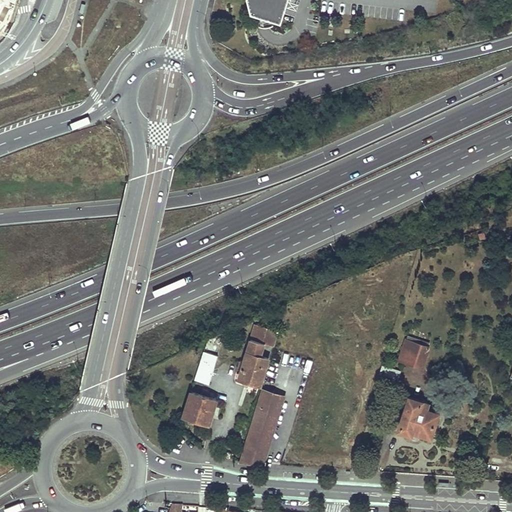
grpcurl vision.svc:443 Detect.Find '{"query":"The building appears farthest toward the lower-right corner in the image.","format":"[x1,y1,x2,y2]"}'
[398,399,440,444]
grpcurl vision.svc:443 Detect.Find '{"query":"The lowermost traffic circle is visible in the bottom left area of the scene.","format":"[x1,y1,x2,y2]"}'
[33,374,148,512]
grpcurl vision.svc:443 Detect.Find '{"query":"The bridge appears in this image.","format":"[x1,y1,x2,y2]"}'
[79,166,174,393]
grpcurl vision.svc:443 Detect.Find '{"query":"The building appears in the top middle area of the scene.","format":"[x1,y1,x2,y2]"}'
[246,0,288,28]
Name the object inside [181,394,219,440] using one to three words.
house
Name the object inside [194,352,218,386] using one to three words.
shed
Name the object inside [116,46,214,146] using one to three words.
roundabout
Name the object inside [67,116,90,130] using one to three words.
vehicle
